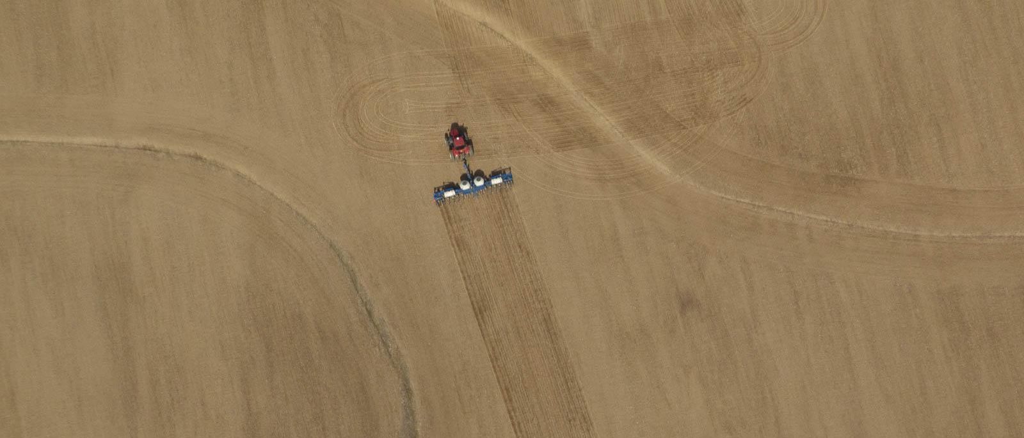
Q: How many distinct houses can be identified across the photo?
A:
0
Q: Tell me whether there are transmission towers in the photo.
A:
No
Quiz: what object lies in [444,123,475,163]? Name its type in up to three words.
work vehicle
